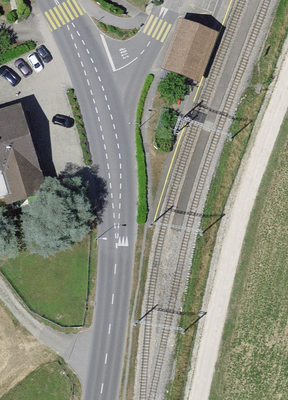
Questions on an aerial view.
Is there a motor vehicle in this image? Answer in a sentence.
Yes, this view includes a motor vehicle.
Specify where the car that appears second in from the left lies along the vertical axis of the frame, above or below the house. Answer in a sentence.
The car that appears second in from the left is located above the house in this view.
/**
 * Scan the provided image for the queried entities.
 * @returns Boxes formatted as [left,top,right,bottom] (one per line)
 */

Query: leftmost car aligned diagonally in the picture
[0,64,21,87]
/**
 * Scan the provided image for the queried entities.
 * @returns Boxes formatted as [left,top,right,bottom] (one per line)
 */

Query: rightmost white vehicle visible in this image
[27,51,44,73]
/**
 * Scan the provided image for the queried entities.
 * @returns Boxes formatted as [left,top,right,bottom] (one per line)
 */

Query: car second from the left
[14,57,34,78]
